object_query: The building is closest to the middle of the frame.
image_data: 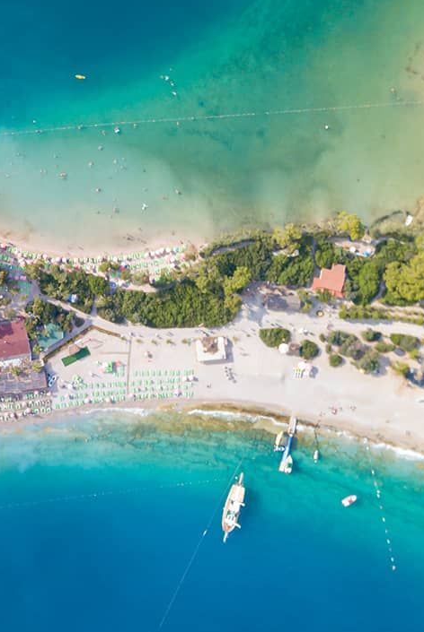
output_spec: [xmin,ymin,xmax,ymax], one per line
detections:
[195,337,226,362]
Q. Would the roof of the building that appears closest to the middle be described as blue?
No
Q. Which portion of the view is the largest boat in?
bottom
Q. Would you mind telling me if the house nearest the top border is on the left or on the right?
right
